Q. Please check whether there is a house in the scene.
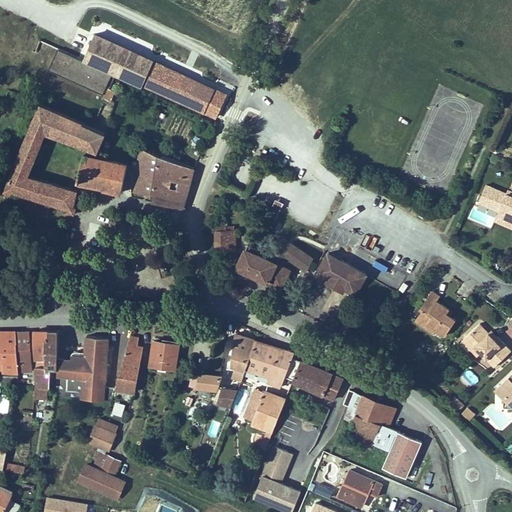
Yes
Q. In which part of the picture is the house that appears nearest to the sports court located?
right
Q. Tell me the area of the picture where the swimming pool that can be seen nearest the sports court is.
right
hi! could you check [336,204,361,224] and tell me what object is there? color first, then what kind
white vehicle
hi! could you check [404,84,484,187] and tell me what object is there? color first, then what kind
gray sports court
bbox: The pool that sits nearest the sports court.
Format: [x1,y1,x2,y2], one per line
[468,206,494,229]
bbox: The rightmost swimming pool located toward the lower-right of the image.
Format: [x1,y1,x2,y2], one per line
[482,392,512,430]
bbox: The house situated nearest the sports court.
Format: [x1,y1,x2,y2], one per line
[478,184,512,231]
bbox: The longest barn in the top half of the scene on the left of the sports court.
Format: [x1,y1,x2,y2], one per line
[82,34,227,120]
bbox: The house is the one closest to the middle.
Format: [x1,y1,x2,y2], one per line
[236,249,277,289]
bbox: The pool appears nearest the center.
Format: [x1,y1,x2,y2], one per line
[233,389,248,414]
